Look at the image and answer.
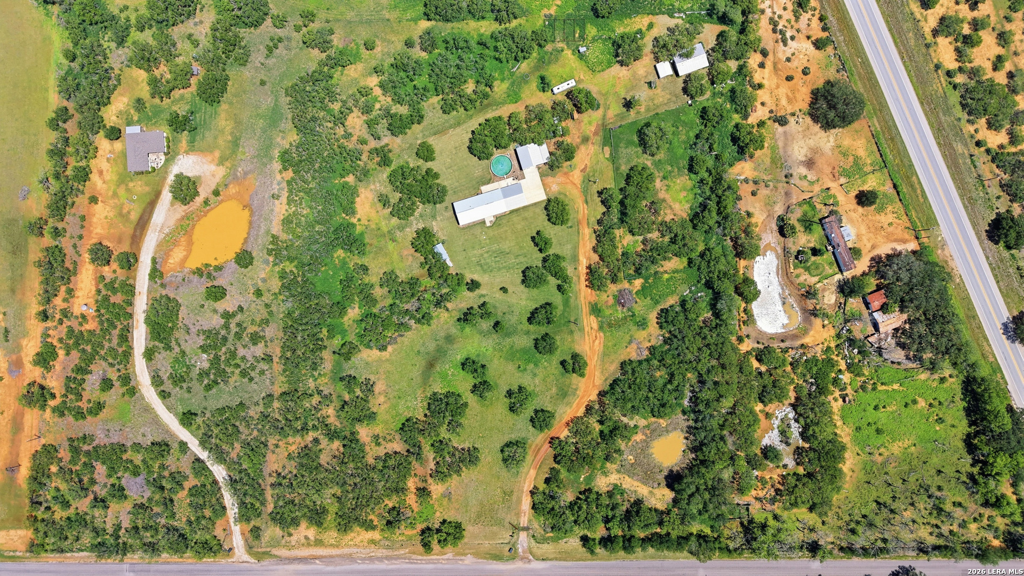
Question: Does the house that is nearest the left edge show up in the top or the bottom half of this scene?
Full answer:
The house that is nearest the left edge is in the top half of the image.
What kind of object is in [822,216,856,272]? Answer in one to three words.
house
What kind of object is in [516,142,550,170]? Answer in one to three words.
building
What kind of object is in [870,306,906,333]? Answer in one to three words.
barn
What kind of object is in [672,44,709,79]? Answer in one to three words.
barn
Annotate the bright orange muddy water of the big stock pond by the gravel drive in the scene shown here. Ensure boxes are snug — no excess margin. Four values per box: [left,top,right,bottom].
[184,199,251,269]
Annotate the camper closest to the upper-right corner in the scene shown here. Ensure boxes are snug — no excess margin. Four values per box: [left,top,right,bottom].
[552,79,576,96]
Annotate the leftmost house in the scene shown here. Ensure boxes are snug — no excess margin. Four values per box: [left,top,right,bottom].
[123,125,168,172]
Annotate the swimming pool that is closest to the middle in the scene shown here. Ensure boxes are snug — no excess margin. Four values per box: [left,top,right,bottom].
[490,153,513,178]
